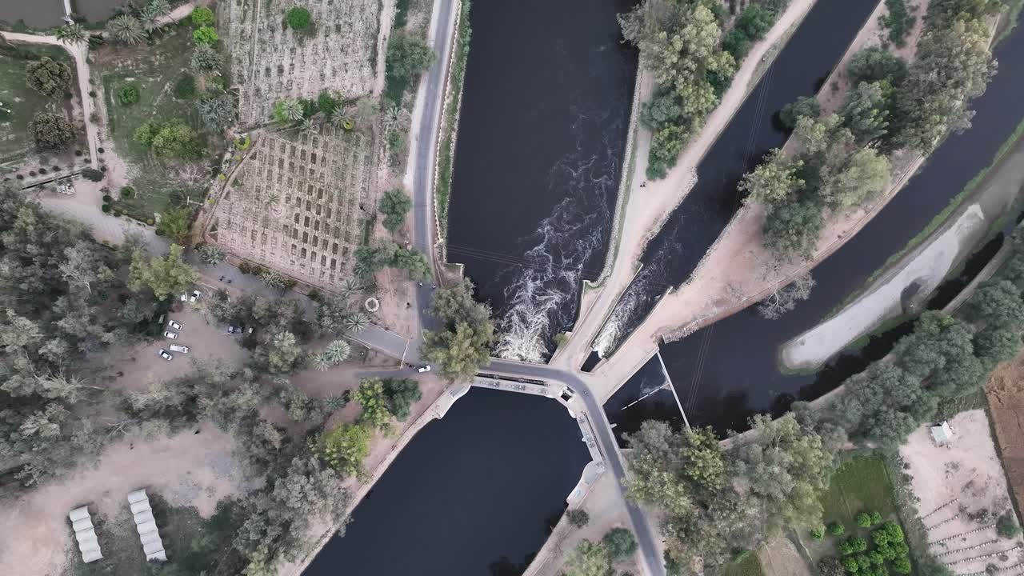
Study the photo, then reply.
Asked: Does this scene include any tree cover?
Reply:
Yes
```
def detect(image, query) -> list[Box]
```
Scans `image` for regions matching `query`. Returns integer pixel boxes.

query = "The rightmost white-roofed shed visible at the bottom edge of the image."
[128,489,167,564]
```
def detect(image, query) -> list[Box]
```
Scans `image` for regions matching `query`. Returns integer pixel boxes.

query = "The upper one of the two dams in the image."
[471,357,550,397]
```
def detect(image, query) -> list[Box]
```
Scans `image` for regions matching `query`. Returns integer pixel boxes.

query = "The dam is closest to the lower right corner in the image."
[576,406,621,462]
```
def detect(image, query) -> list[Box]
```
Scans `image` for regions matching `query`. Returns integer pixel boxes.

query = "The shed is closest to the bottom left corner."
[70,505,103,563]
